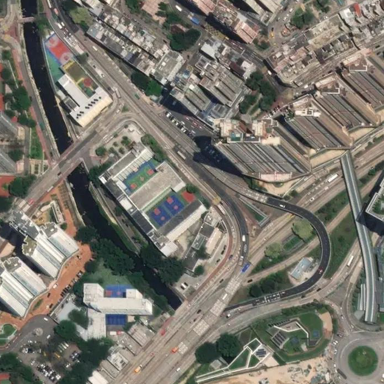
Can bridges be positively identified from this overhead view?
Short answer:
Yes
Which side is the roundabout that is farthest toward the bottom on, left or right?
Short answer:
right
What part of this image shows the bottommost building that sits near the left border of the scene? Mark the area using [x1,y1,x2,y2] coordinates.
[0,258,45,311]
